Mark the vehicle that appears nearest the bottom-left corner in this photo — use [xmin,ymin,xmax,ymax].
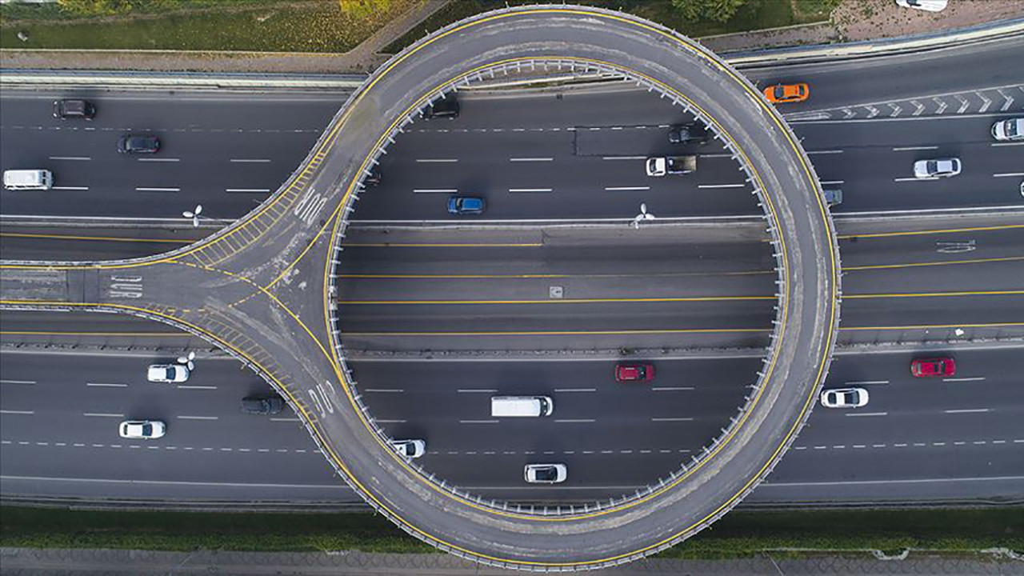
[119,419,168,441]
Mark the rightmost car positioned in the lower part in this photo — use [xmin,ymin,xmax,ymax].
[908,356,954,378]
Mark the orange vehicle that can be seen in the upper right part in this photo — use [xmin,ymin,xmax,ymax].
[763,83,809,105]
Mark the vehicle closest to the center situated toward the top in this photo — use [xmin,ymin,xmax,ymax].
[447,195,485,217]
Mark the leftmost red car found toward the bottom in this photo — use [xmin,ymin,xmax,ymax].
[615,361,654,383]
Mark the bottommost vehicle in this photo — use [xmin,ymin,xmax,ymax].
[524,462,566,486]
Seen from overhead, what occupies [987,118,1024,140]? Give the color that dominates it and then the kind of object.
white car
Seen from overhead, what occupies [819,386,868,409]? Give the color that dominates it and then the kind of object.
white car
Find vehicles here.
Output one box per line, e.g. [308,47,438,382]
[447,195,485,217]
[987,118,1024,140]
[5,167,56,191]
[615,361,654,383]
[895,0,948,13]
[645,153,697,176]
[491,395,553,419]
[825,187,843,206]
[394,438,426,458]
[54,98,98,121]
[911,157,960,180]
[361,166,381,186]
[146,363,191,385]
[908,356,954,378]
[763,83,809,105]
[241,394,286,417]
[119,419,168,441]
[819,386,868,409]
[524,462,566,486]
[668,122,711,146]
[420,98,459,118]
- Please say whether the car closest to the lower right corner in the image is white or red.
red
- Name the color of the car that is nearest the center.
blue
